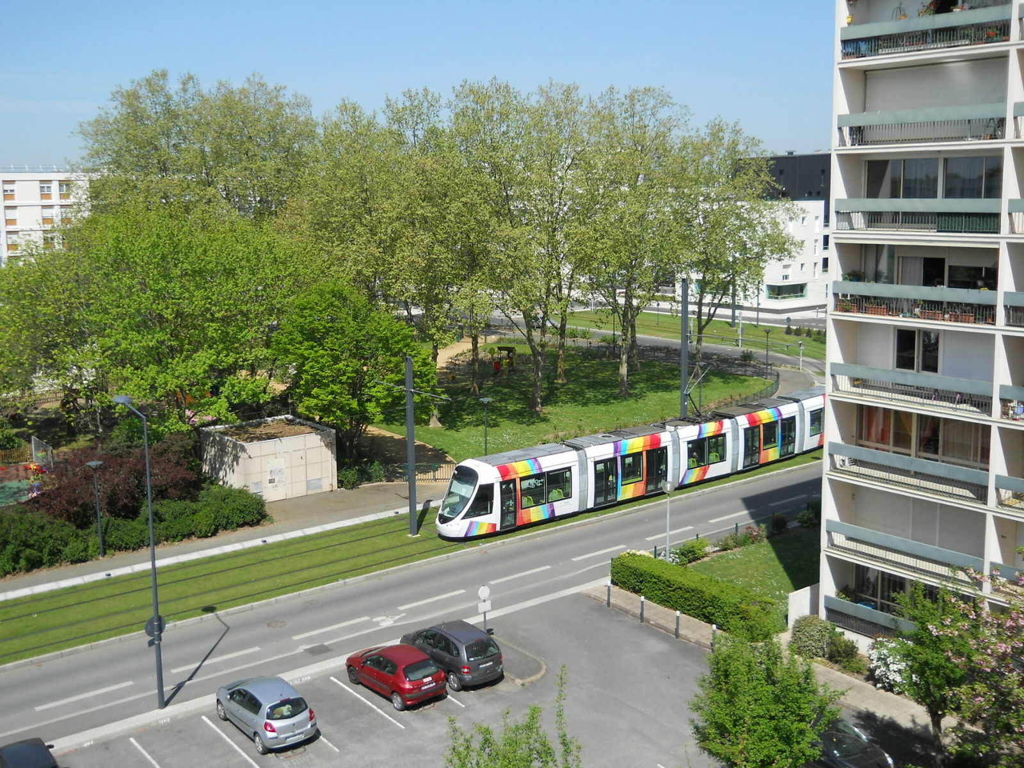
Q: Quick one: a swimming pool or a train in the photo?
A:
train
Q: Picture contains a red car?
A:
Yes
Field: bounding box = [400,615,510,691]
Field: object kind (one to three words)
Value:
car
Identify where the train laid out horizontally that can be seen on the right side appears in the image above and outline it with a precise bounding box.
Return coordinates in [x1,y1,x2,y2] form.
[430,365,826,543]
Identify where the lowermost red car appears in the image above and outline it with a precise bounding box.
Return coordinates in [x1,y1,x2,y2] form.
[350,641,453,710]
